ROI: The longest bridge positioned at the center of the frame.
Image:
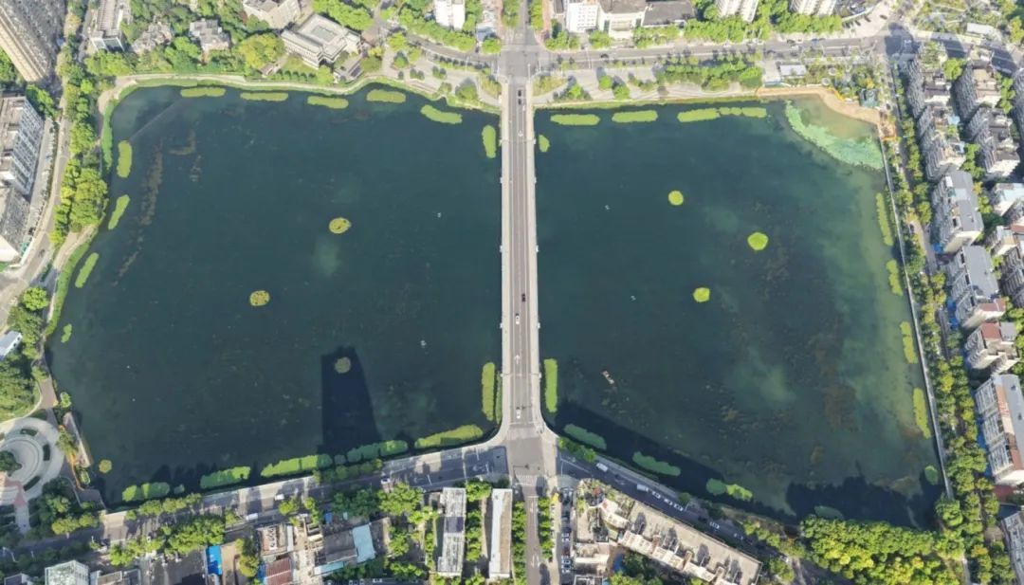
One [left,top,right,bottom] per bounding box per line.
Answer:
[500,84,542,412]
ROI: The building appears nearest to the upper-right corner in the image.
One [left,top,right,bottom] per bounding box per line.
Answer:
[963,23,994,39]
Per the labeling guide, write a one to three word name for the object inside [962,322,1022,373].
building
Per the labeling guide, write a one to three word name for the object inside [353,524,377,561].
shed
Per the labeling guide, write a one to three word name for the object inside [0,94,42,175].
building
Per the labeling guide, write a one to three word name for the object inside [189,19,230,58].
house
